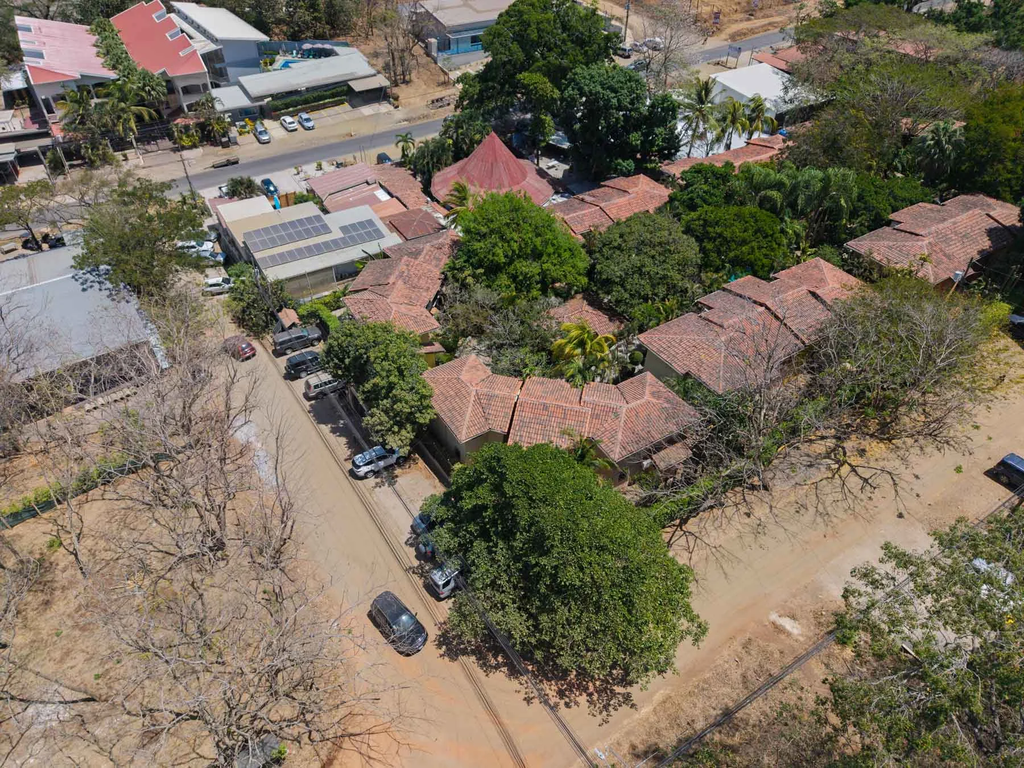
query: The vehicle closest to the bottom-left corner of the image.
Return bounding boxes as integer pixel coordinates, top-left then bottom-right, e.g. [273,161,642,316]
[371,588,431,660]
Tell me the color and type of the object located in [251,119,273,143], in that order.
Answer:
gray car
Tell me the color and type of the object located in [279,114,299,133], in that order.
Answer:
white car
